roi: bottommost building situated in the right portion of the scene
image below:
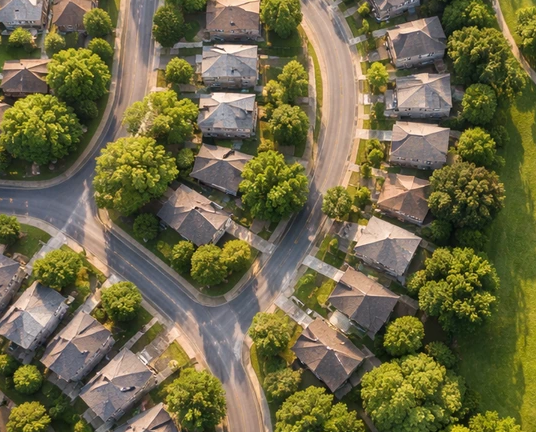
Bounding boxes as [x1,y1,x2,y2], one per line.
[290,318,364,389]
